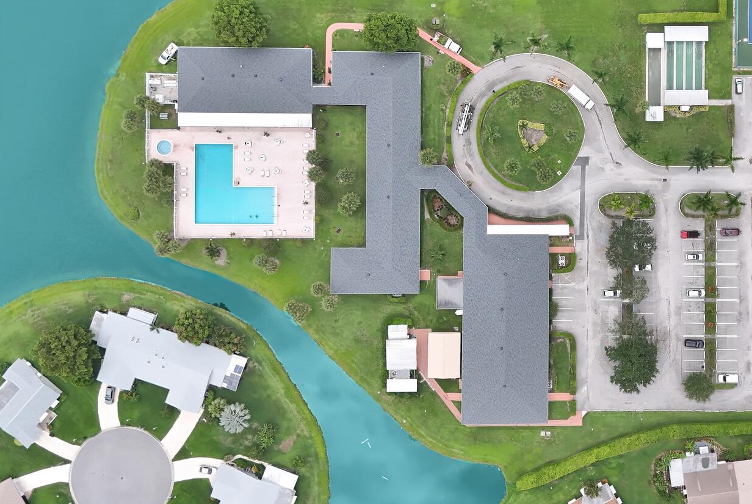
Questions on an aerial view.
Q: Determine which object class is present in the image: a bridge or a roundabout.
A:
roundabout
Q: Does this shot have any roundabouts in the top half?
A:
Yes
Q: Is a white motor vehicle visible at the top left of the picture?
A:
Yes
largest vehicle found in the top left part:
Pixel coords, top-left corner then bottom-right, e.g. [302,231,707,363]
[159,42,177,64]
